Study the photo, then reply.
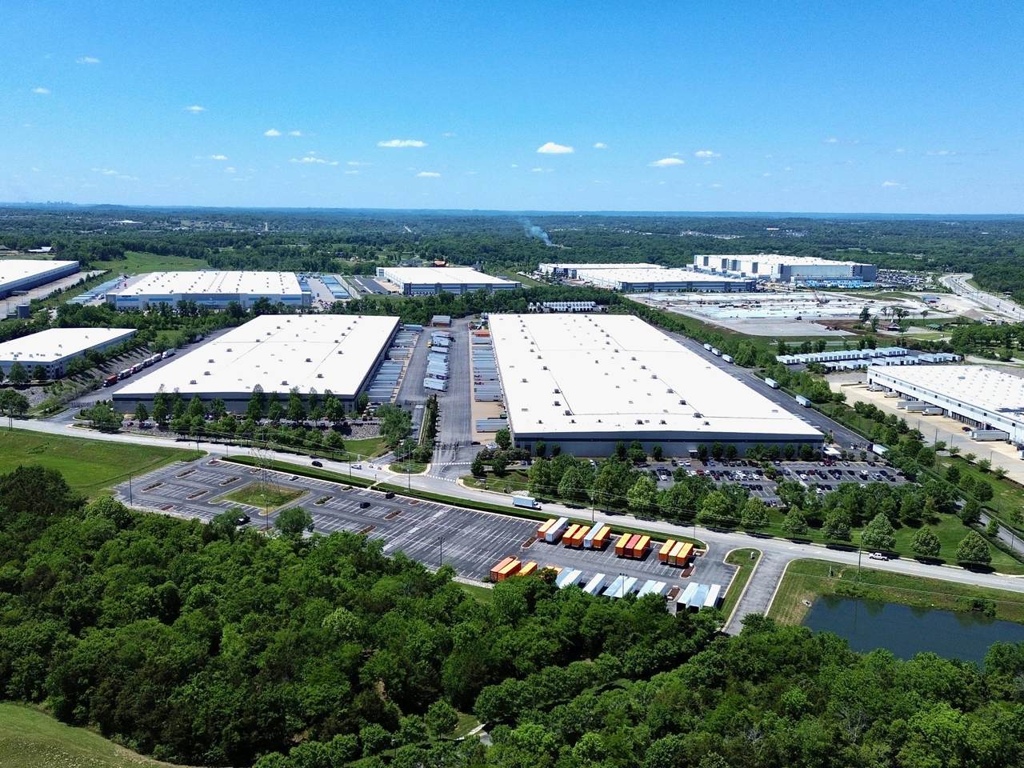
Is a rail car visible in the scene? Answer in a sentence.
No, the frame has no rail car in it.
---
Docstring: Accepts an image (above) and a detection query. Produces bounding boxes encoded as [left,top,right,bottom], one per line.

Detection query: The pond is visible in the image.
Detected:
[805,593,1024,679]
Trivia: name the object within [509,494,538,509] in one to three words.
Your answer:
vehicle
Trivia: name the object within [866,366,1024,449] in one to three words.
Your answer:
building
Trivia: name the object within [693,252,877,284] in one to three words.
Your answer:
building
